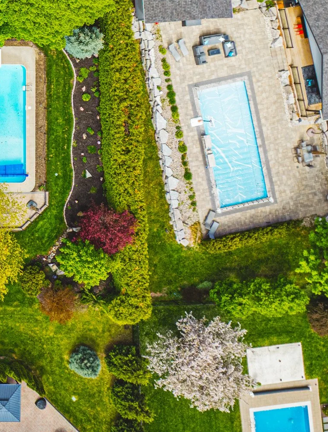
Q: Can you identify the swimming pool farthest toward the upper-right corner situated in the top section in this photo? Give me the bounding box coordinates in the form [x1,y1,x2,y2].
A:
[199,80,268,209]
